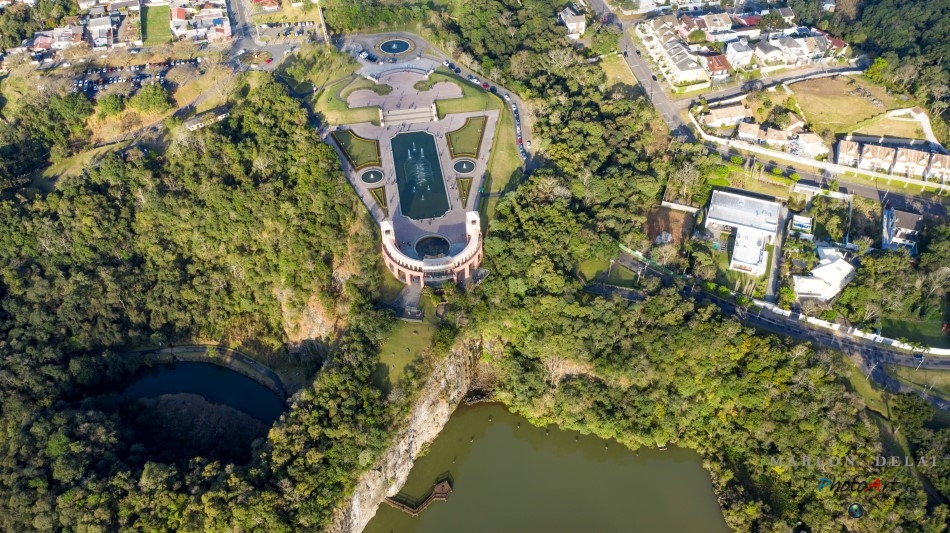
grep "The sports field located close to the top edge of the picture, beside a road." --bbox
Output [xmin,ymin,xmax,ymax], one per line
[142,4,173,45]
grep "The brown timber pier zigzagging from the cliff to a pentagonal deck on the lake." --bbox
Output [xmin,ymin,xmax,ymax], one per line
[385,479,452,520]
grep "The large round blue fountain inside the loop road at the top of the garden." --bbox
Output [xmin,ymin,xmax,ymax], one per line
[375,35,417,57]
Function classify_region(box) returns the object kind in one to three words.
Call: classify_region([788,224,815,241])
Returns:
shed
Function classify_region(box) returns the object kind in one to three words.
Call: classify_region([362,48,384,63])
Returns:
vehicle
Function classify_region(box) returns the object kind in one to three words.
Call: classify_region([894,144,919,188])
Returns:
house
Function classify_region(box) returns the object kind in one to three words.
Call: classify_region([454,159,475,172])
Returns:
fountain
